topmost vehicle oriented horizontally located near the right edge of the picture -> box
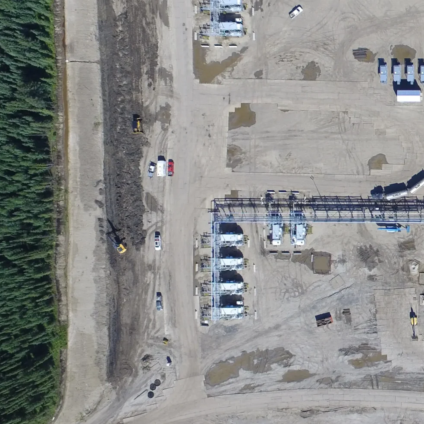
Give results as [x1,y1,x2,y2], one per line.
[371,184,410,200]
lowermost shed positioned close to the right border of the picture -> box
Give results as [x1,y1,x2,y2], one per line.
[396,88,423,104]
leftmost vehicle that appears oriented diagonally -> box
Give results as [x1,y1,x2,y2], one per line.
[108,230,127,255]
